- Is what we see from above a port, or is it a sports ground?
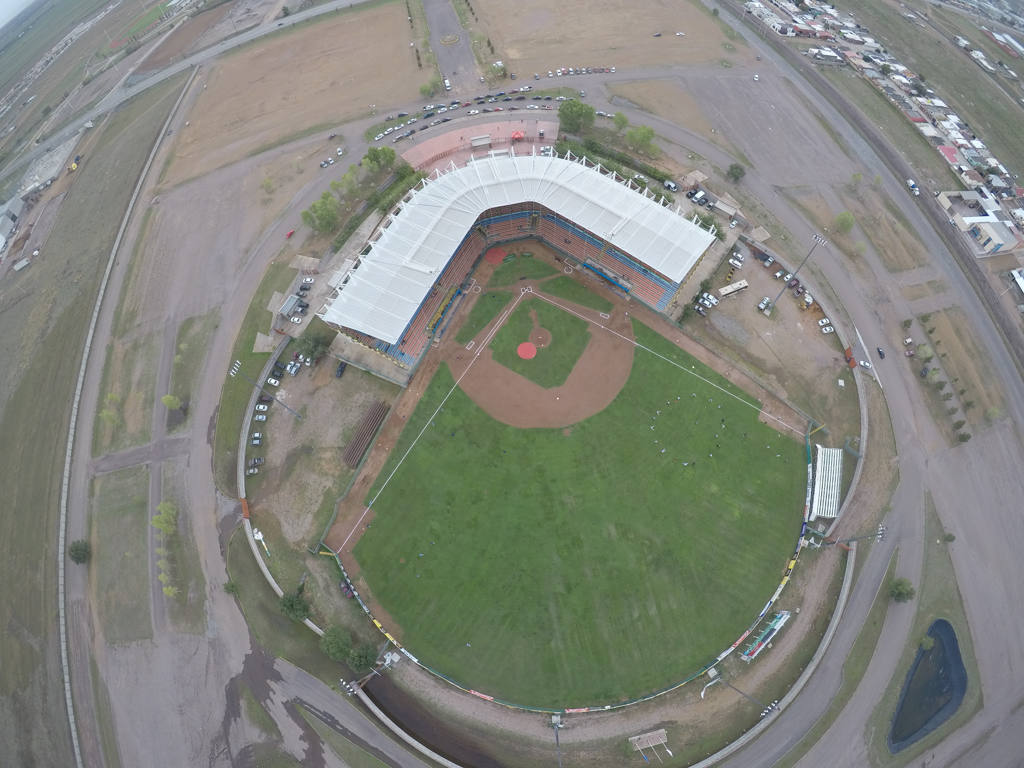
sports ground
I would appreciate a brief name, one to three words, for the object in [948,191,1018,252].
building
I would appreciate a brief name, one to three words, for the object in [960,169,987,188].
house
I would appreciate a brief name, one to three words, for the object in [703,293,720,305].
vehicle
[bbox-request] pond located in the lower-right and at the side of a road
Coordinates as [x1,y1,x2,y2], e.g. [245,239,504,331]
[887,618,968,755]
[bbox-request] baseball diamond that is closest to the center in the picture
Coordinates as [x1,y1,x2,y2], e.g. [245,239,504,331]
[321,240,809,709]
